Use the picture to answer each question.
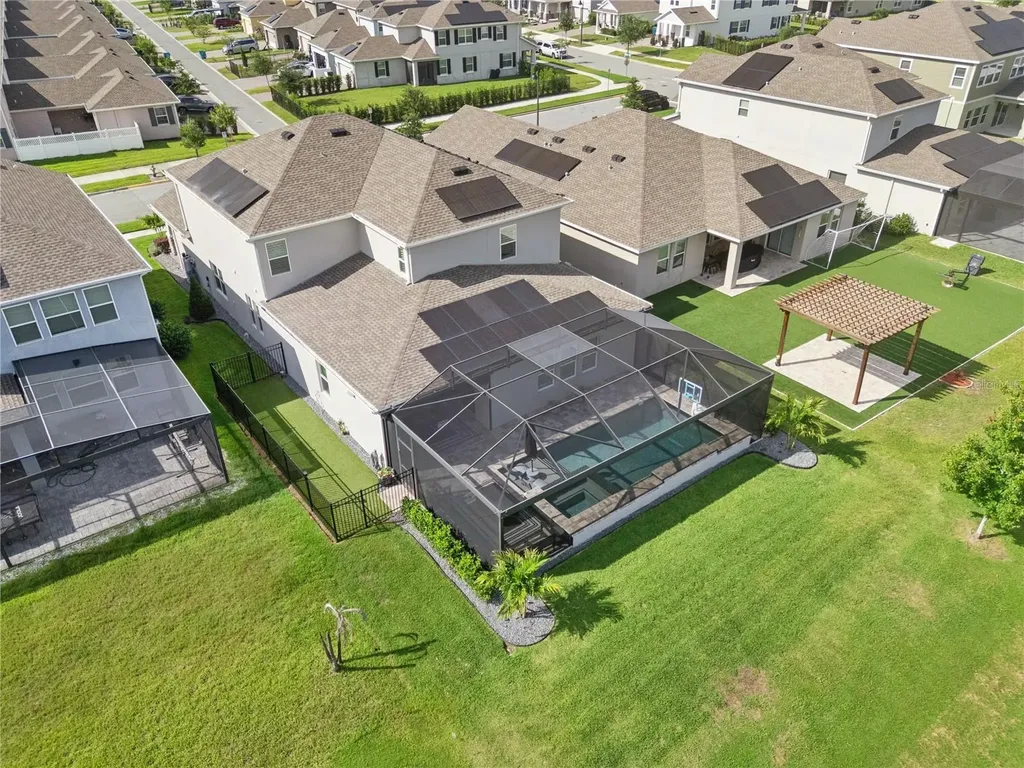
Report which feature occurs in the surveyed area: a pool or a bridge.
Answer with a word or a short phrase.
pool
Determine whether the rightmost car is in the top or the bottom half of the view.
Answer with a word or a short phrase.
top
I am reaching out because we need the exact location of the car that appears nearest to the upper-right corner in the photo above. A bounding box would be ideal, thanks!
[636,89,675,110]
